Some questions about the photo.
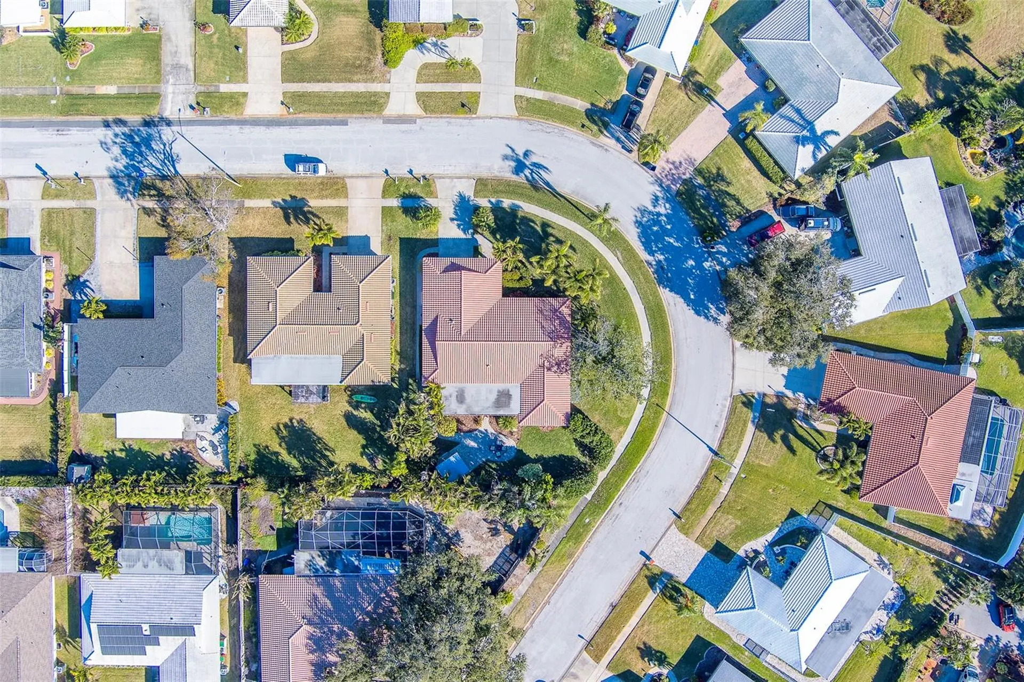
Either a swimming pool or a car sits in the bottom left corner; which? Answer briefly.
swimming pool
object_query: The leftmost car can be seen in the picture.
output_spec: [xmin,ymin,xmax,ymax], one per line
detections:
[295,160,329,177]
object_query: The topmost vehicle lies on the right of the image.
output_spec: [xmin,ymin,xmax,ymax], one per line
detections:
[634,64,657,100]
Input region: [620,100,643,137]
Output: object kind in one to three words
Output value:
truck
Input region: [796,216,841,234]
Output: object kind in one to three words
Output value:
vehicle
